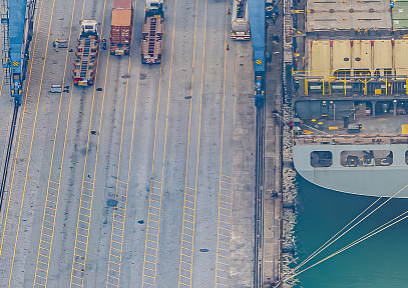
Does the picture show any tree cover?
No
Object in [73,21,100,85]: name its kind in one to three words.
truck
